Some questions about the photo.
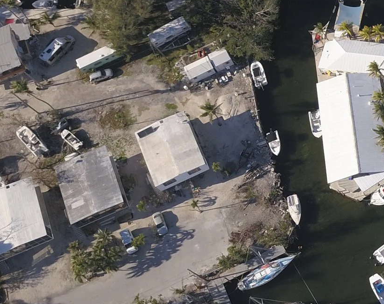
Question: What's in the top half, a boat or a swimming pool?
boat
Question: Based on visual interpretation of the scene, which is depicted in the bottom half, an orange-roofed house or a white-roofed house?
white-roofed house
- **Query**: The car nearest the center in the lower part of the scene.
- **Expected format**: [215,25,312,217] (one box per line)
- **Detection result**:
[153,211,170,237]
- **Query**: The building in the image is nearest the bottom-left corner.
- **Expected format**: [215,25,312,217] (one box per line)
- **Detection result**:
[0,178,61,273]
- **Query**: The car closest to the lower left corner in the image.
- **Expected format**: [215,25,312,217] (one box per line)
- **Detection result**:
[119,229,139,256]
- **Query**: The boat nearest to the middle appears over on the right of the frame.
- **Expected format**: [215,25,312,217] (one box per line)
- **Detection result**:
[265,129,281,155]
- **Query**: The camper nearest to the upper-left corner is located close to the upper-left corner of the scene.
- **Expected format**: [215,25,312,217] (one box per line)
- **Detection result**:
[41,34,86,70]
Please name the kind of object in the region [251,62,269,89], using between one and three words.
boat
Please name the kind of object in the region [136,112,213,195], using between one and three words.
house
